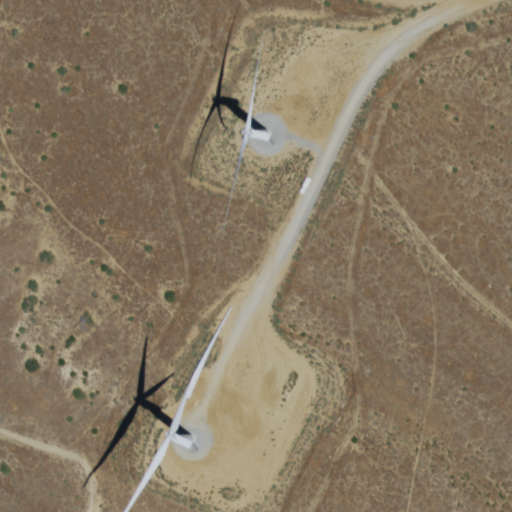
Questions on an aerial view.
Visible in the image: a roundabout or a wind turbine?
wind turbine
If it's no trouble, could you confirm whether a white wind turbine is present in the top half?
Yes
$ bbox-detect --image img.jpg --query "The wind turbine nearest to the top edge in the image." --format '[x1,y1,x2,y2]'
[236,24,277,219]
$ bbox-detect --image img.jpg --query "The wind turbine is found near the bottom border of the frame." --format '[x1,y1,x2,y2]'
[136,353,214,512]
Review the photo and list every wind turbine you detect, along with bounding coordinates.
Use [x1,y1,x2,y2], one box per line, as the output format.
[236,24,277,219]
[136,353,214,512]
